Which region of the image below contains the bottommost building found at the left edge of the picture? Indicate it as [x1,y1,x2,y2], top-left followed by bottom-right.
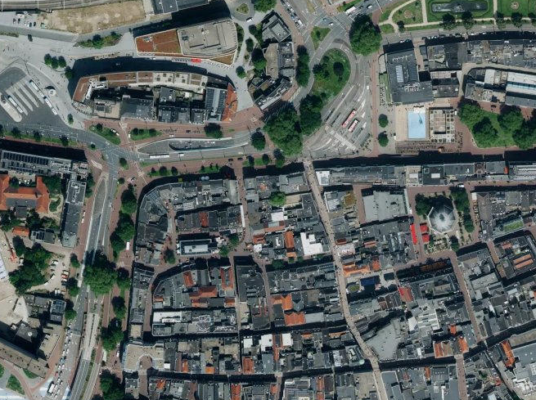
[23,353,49,377]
